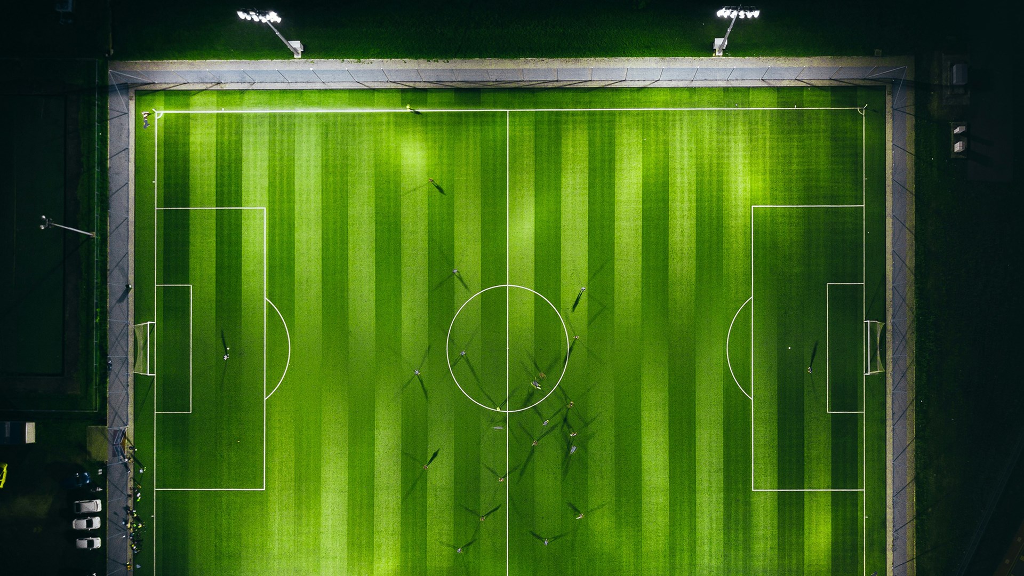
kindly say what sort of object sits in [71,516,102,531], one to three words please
car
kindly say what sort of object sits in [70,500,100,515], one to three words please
car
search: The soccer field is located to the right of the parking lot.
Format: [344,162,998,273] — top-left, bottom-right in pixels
[131,85,887,576]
